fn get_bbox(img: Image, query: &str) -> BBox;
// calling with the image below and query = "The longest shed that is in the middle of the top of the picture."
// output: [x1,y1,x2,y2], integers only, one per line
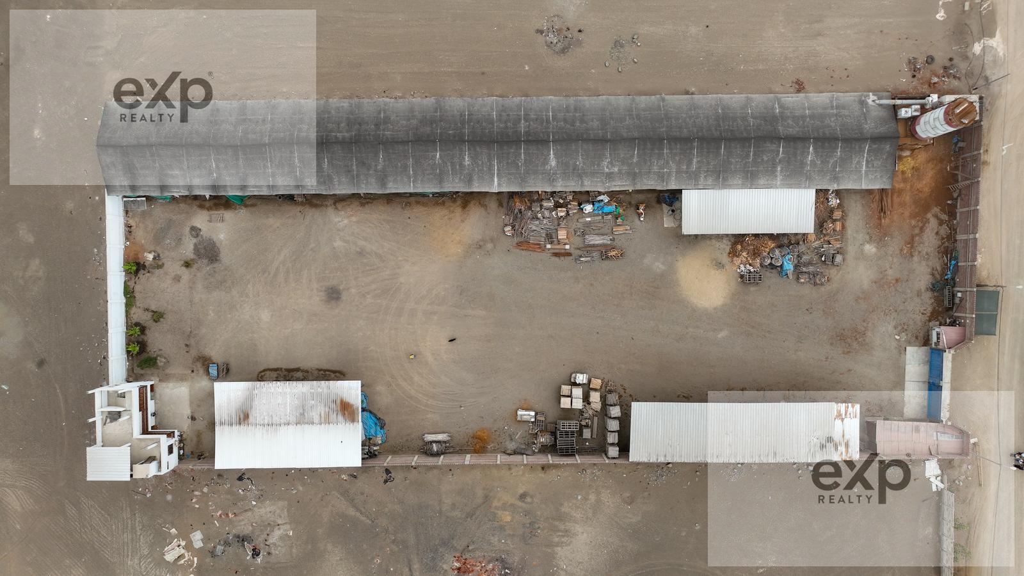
[96,92,900,194]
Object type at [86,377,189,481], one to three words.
house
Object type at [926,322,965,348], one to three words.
shed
